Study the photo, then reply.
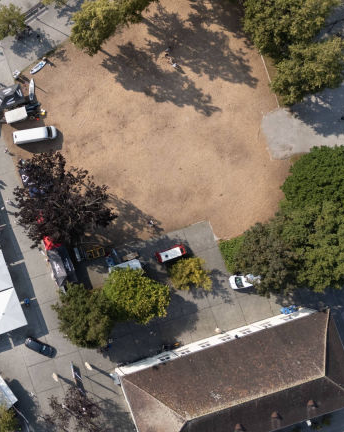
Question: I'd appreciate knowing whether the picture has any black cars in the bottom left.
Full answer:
Yes, a black car appears in the bottom left.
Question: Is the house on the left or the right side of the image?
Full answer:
The house appears in the right half of the scene.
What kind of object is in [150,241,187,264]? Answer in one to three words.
vehicle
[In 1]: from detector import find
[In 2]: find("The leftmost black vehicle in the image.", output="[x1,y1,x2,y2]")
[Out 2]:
[23,333,58,359]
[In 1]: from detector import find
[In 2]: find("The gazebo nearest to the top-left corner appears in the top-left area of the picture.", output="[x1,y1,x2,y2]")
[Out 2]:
[0,84,25,111]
